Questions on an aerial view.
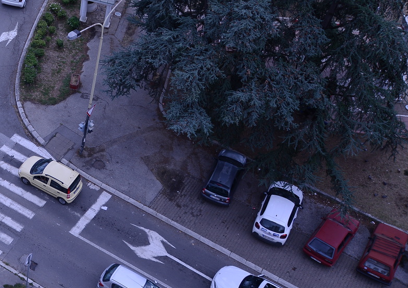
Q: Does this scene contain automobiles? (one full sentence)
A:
Yes, an automobile appears in the view.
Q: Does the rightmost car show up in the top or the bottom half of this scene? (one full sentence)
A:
Seen from above, the rightmost car lies in the bottom half of the view.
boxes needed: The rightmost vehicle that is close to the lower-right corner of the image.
[361,220,408,286]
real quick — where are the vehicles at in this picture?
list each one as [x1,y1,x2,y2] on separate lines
[361,220,408,286]
[210,267,281,288]
[94,259,160,288]
[305,207,362,267]
[254,180,306,249]
[202,146,252,207]
[2,0,27,8]
[17,157,84,205]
